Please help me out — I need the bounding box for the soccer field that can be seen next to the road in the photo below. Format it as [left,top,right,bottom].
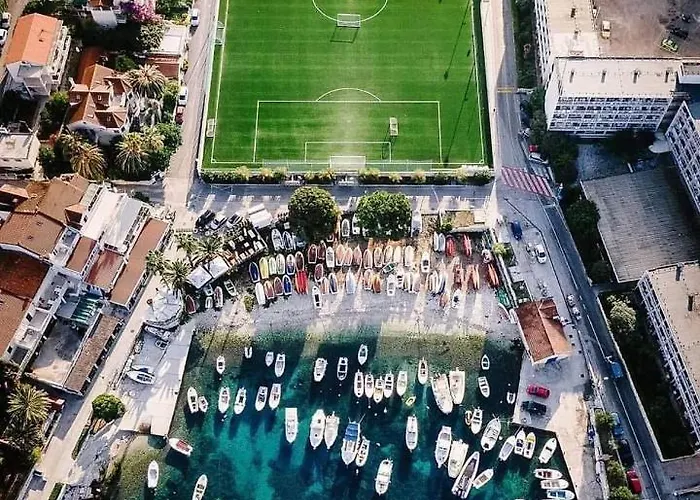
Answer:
[197,0,488,170]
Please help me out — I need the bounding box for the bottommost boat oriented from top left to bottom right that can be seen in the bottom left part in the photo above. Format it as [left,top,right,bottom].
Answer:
[168,437,195,458]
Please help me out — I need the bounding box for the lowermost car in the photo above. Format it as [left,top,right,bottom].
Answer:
[625,469,644,496]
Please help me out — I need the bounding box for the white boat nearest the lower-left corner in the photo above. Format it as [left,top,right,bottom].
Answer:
[146,449,159,491]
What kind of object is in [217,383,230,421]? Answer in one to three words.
boat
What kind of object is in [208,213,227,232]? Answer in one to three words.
car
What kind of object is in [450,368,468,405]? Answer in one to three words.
boat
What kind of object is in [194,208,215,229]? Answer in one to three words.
car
